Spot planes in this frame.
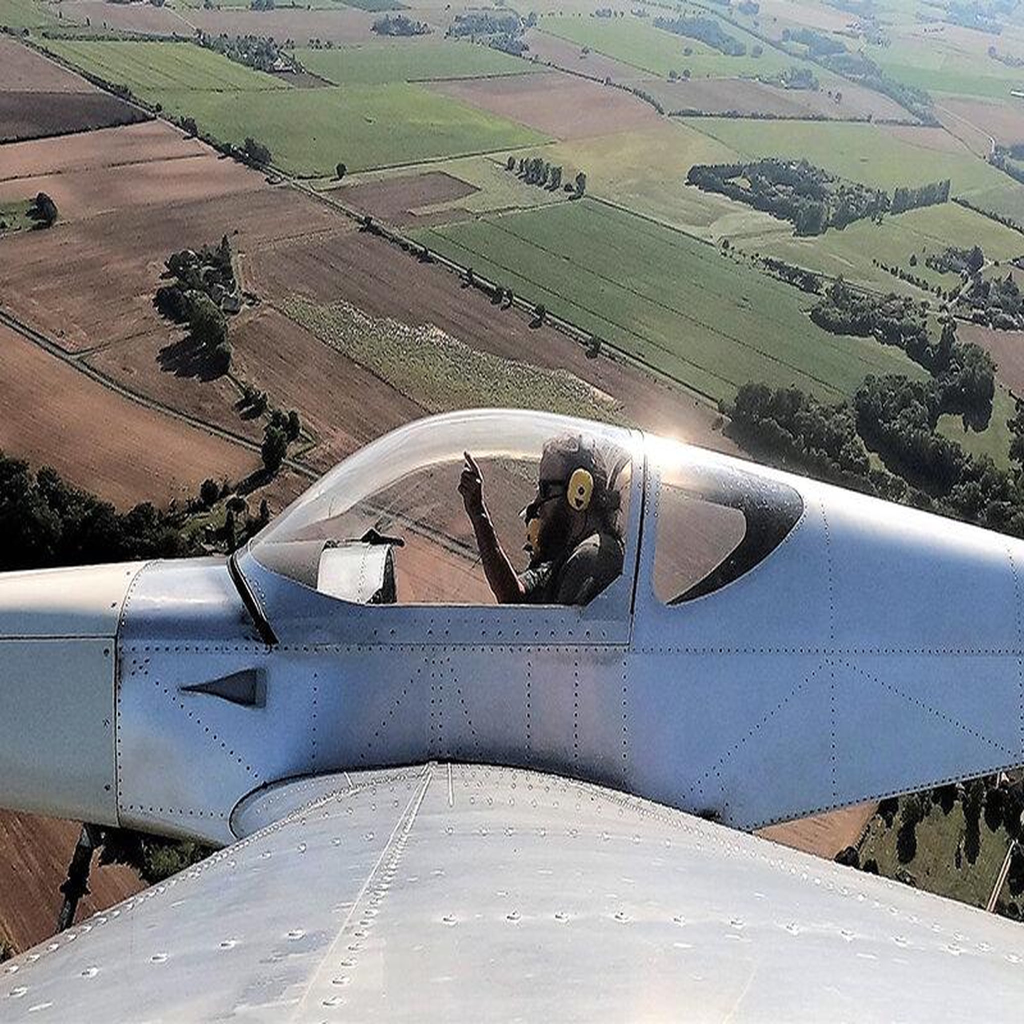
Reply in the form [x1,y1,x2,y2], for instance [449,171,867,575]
[0,411,1024,1024]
